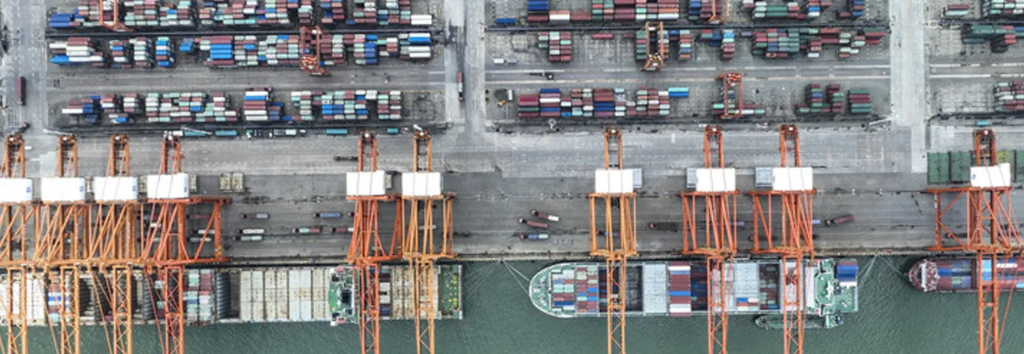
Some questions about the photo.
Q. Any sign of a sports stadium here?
No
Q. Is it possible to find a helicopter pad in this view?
No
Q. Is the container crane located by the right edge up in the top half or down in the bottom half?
bottom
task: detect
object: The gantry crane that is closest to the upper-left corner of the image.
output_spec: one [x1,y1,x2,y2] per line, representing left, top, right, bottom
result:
[98,0,141,38]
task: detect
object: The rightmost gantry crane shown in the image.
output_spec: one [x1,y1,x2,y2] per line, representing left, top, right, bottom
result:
[921,120,1022,354]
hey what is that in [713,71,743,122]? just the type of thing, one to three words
container crane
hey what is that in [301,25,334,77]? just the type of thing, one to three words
container crane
